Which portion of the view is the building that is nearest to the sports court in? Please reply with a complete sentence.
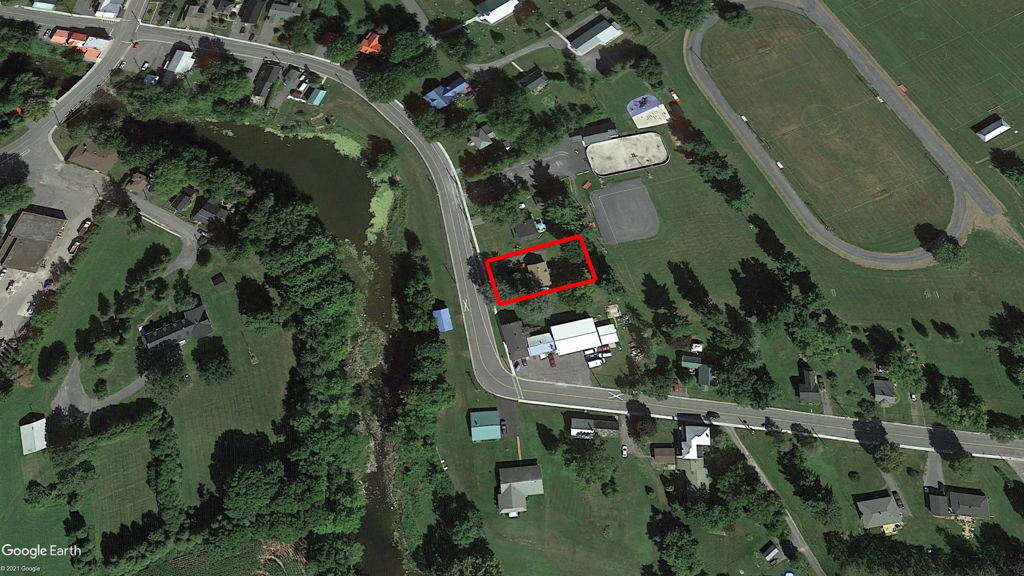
Look in the top portion of the view to spot the building that is nearest to the sports court.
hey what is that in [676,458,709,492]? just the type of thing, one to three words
barn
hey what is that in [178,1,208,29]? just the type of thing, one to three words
house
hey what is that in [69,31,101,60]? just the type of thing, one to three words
building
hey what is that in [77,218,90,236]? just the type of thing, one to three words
vehicle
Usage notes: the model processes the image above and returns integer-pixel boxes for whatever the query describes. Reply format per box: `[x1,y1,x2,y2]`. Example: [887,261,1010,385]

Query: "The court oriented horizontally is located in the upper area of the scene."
[586,133,668,175]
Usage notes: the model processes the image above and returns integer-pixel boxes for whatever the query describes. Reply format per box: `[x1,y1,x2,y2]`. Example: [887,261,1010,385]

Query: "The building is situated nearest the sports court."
[570,124,619,146]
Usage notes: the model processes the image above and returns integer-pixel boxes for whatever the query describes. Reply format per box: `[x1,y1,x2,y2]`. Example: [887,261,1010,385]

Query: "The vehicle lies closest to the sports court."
[669,86,681,104]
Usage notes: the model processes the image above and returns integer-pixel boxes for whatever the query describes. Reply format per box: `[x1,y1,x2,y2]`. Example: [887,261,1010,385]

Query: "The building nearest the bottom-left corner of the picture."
[20,419,49,452]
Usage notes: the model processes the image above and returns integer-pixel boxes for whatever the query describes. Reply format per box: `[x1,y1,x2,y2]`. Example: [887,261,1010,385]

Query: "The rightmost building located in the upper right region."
[977,118,1008,143]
